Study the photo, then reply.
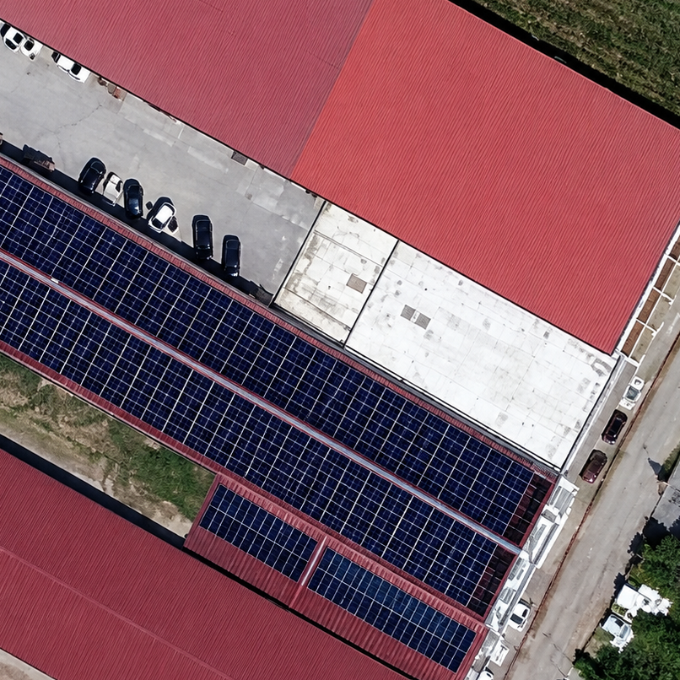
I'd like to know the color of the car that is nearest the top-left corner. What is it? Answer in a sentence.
From above, the car that is nearest the top-left corner appears white.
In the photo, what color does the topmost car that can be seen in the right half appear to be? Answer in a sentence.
The topmost car that can be seen in the right half looks white in the image.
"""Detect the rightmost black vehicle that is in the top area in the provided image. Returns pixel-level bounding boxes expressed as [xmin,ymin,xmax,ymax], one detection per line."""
[222,235,241,279]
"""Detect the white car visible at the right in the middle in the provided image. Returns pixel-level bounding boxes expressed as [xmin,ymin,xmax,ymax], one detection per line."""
[620,374,646,413]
